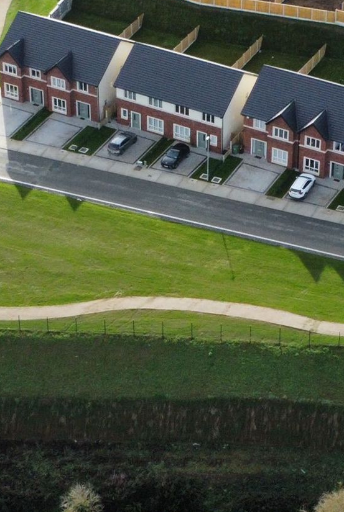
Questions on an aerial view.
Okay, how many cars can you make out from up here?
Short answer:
three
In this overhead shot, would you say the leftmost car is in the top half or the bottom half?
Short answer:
top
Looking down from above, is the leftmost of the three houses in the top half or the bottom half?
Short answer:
top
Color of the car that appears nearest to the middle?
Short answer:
black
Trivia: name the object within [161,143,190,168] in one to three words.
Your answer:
car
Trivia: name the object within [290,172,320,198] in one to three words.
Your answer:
car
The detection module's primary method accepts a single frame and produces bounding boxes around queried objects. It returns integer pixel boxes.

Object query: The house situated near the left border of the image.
[0,10,135,121]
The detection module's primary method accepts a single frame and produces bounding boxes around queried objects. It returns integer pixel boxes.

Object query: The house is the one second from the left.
[112,40,260,155]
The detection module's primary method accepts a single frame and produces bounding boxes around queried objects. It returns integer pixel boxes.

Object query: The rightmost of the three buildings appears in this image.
[240,66,344,184]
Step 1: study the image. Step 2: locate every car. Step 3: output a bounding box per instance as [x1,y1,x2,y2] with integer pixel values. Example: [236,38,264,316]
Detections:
[290,172,320,198]
[161,143,190,168]
[107,128,138,155]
